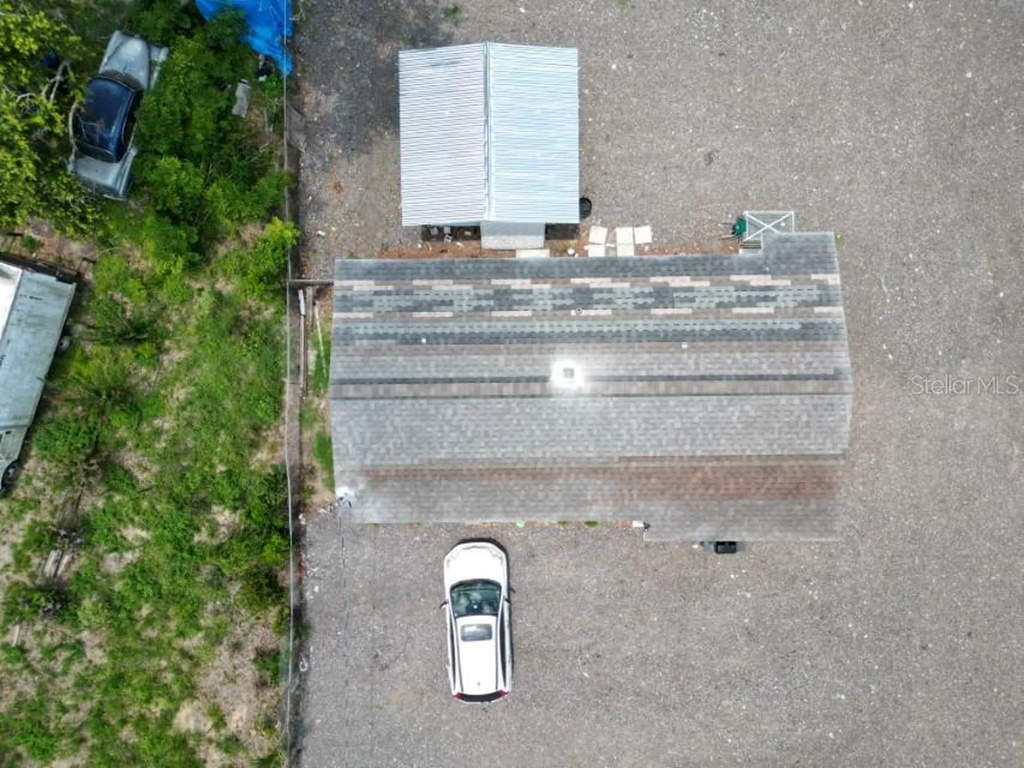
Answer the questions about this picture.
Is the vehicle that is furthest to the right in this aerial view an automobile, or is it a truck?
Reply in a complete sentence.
The vehicle that is furthest to the right appears to be an automobile.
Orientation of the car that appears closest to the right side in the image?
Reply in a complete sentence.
In this picture, the car that appears closest to the right side is oriented up and down.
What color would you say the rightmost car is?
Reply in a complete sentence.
The rightmost car is white.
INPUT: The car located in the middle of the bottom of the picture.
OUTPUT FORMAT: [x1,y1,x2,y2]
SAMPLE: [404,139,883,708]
[440,540,514,706]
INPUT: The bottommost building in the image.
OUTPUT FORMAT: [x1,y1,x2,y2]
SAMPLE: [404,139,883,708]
[328,229,852,542]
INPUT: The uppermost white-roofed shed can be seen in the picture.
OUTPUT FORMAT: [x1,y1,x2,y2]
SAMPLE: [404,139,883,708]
[399,38,580,229]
